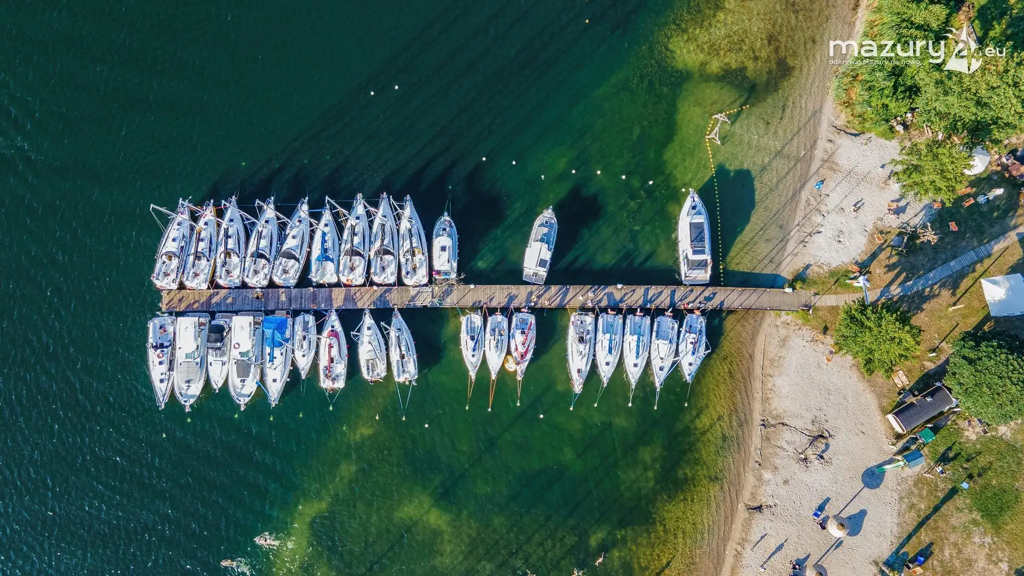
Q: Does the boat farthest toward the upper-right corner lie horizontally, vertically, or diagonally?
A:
vertically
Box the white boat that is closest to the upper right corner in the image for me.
[677,190,712,287]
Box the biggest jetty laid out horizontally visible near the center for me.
[160,284,818,313]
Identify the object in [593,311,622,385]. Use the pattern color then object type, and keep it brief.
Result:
white boat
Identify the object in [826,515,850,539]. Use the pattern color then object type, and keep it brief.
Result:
white umbrella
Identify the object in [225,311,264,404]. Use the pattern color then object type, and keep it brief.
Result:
white boat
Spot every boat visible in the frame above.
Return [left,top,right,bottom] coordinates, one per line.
[502,353,516,374]
[621,311,654,387]
[677,309,714,381]
[170,312,211,404]
[350,309,389,383]
[485,311,508,378]
[225,311,264,404]
[564,310,594,391]
[593,311,622,385]
[153,196,191,291]
[432,199,461,284]
[277,310,320,377]
[327,193,370,287]
[302,308,352,393]
[523,205,559,284]
[151,198,221,291]
[459,310,485,380]
[257,197,313,289]
[234,314,294,406]
[382,308,419,385]
[390,193,427,288]
[677,190,712,287]
[649,312,685,389]
[509,309,534,379]
[292,204,340,287]
[182,195,247,289]
[221,195,281,289]
[360,191,399,288]
[204,317,233,388]
[146,313,176,409]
